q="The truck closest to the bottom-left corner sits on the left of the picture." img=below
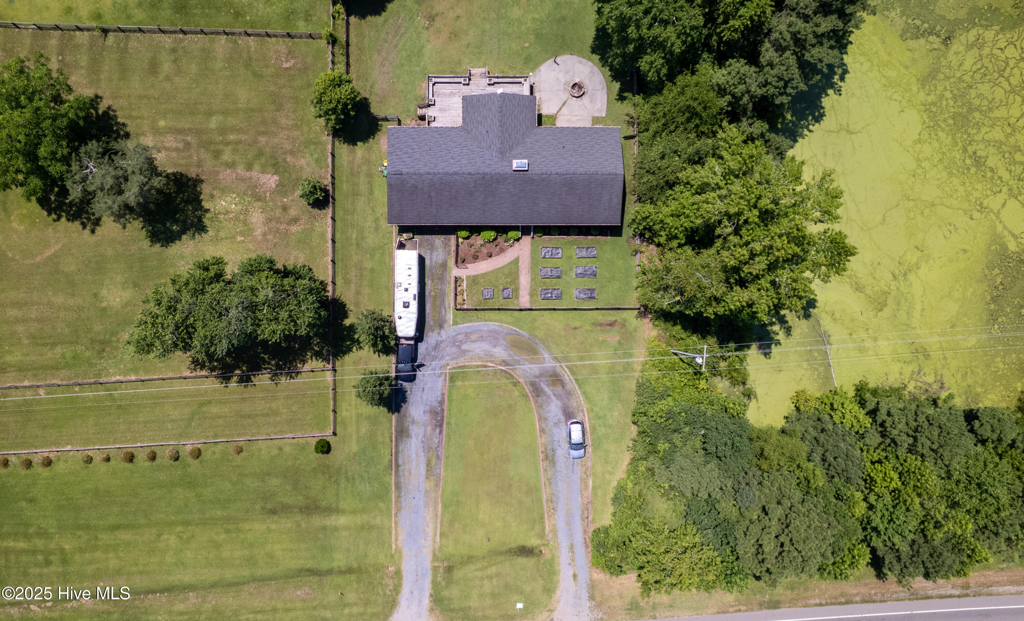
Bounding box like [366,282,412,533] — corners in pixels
[391,328,418,382]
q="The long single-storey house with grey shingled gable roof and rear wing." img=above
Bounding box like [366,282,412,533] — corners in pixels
[384,92,623,226]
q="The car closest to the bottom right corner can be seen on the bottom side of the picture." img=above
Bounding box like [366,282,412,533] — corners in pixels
[566,418,586,460]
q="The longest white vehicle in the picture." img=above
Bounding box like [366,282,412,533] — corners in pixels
[394,239,422,336]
